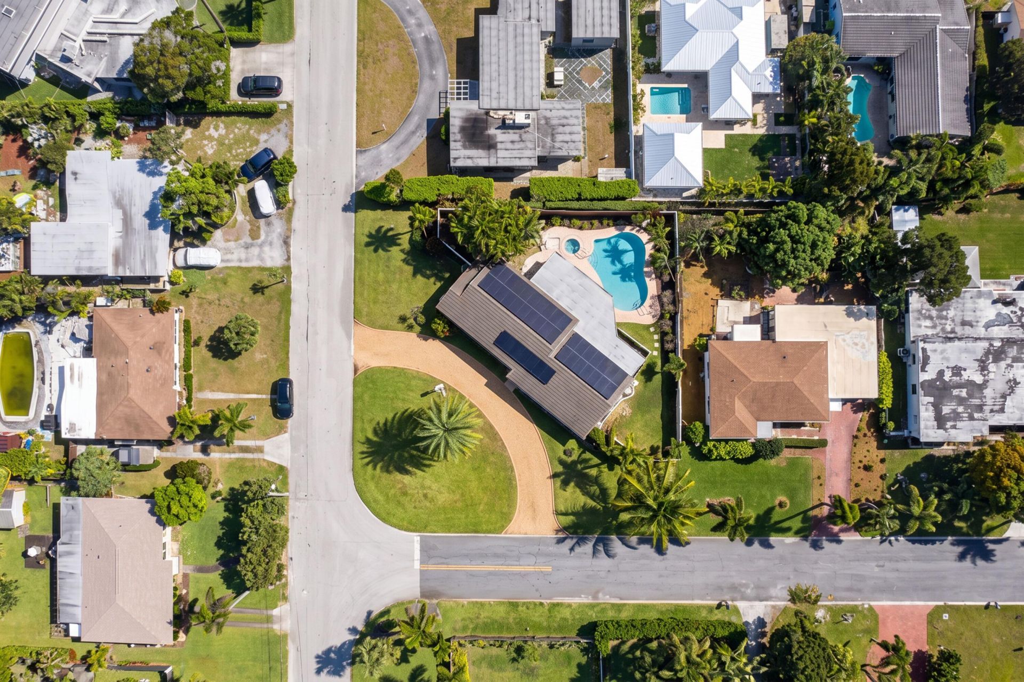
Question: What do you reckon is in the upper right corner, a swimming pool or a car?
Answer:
swimming pool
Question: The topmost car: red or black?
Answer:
black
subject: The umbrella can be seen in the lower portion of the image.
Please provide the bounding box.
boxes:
[26,543,48,559]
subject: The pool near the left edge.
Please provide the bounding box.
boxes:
[0,329,39,420]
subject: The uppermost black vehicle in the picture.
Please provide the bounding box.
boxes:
[239,74,282,97]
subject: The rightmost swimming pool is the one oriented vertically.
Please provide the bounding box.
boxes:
[845,73,875,143]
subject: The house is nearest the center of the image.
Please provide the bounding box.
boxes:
[436,252,645,439]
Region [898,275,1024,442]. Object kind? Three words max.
house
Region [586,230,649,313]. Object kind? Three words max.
swimming pool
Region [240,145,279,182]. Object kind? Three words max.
car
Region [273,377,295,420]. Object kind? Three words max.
car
